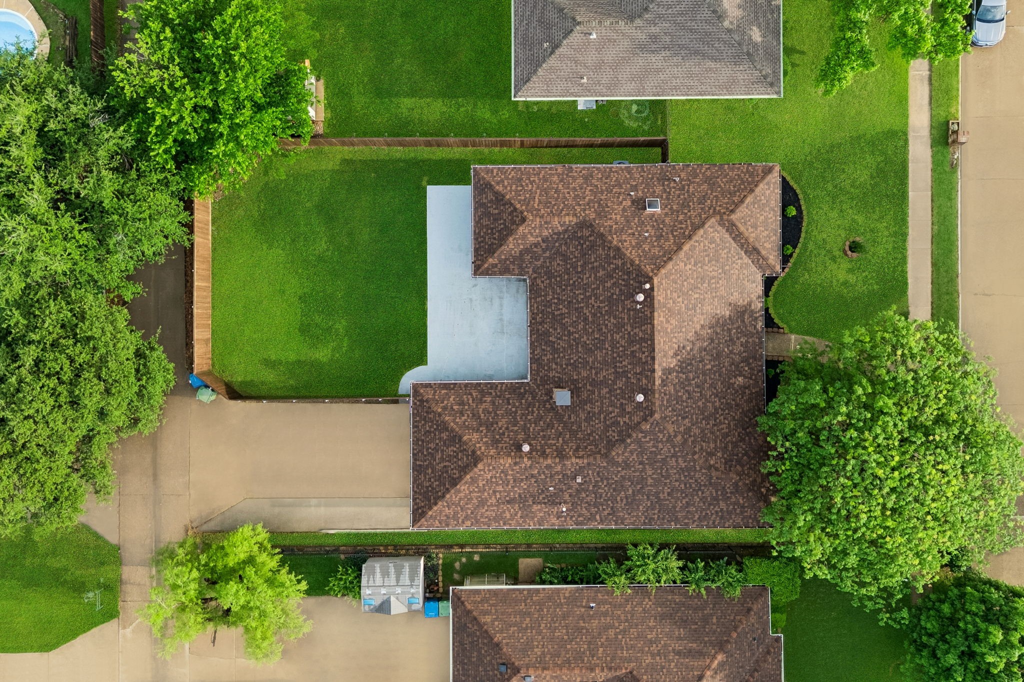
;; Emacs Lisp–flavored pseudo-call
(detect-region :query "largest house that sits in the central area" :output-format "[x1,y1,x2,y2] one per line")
[406,160,785,532]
